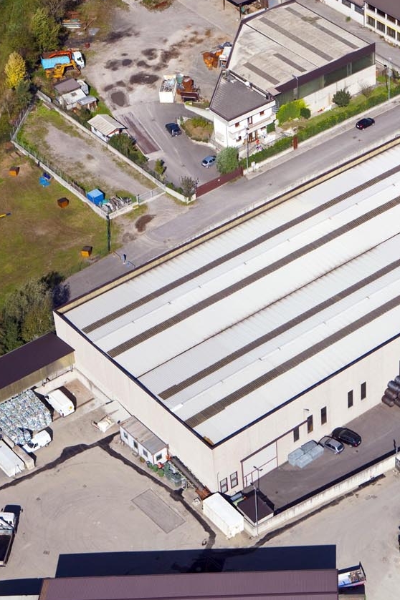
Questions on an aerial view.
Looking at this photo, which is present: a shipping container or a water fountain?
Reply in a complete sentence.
It is a shipping container that can be seen here.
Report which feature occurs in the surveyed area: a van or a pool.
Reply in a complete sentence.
The one in the frame is a van.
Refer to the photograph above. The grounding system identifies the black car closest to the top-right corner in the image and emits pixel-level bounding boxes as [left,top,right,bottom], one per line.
[354,117,377,131]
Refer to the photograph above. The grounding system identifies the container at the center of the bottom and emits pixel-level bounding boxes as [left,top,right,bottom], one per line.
[198,488,244,537]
